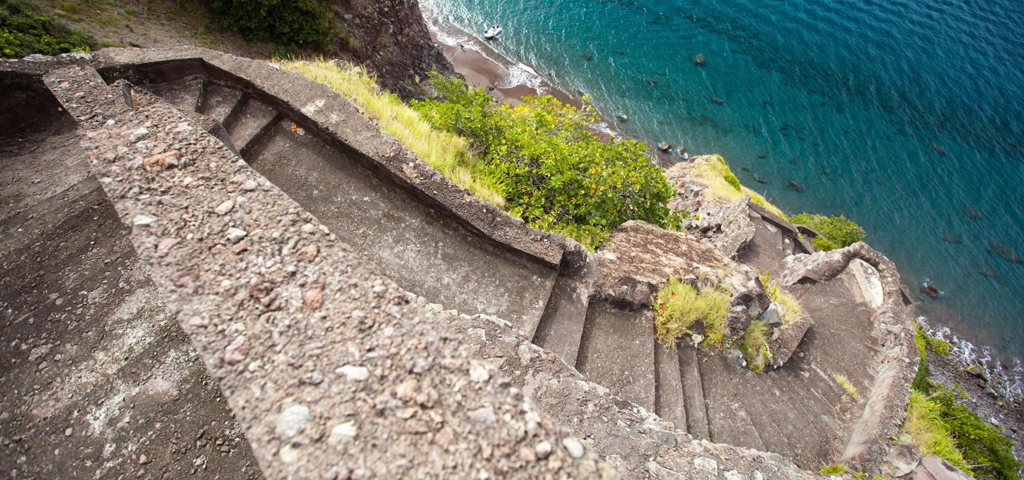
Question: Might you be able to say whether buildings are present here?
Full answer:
No, there appears to be no building in this shot.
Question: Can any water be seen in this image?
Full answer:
Yes, water can be seen from above here.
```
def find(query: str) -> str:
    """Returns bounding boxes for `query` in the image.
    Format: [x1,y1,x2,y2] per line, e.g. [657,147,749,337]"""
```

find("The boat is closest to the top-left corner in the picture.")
[482,25,502,38]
